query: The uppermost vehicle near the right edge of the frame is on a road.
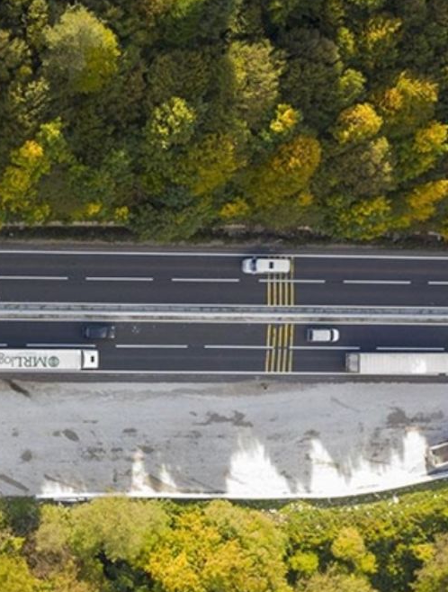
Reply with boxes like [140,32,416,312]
[343,353,448,376]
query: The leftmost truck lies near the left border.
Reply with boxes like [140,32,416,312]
[0,349,97,371]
